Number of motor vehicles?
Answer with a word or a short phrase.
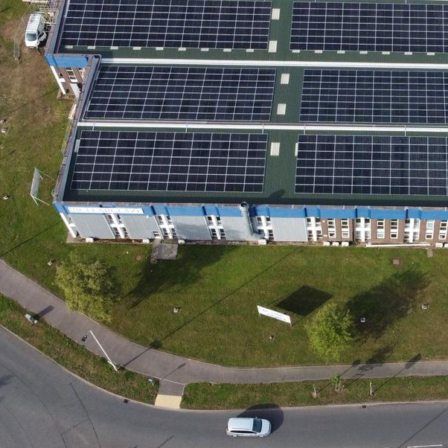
2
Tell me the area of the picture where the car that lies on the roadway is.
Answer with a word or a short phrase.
bottom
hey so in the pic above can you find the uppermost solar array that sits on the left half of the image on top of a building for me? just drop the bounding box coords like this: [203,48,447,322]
[63,0,271,50]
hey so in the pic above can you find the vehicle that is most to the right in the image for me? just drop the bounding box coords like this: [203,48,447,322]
[226,417,272,439]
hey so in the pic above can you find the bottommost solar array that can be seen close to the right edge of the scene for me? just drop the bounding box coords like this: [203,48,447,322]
[293,135,448,197]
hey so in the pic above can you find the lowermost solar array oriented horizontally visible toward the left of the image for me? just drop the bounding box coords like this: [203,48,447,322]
[74,130,268,194]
